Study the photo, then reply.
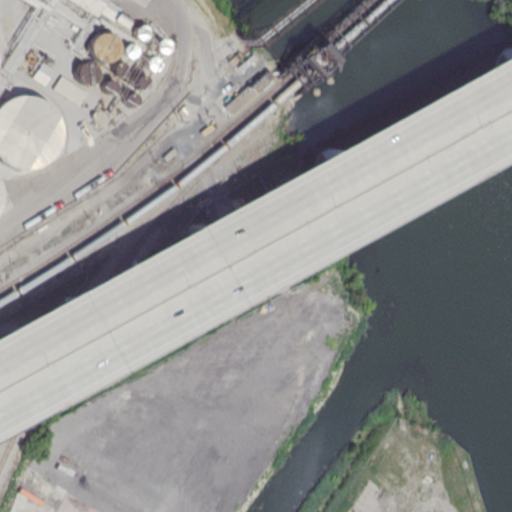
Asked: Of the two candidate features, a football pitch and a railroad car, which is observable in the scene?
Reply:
railroad car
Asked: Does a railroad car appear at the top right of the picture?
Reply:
Yes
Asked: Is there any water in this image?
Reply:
Yes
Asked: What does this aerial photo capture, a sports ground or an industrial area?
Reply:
industrial area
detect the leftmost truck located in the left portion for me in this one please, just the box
[22,202,62,229]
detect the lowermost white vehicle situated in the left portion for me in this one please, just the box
[54,462,76,477]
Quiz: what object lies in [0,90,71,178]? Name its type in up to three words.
storage tank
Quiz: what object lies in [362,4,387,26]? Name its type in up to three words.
rail car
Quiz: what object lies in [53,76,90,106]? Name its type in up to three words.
building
